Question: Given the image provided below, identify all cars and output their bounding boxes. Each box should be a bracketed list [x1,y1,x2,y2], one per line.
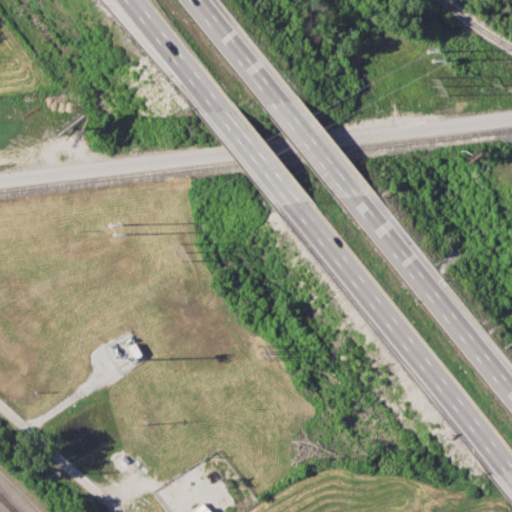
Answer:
[192,0,200,7]
[332,238,342,248]
[166,43,176,54]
